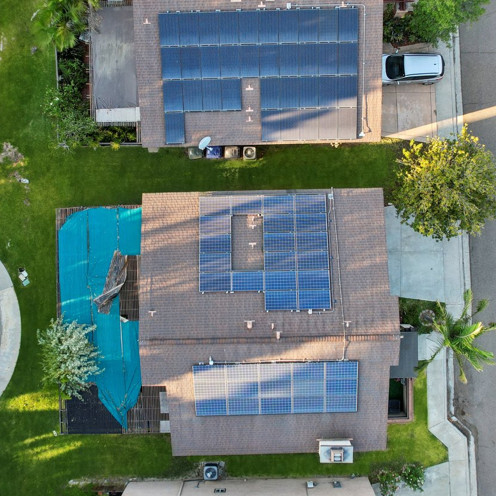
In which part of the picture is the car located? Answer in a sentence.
You can find the car in the top right area of the picture.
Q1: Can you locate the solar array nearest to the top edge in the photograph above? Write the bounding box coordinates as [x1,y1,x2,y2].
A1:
[157,1,365,144]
